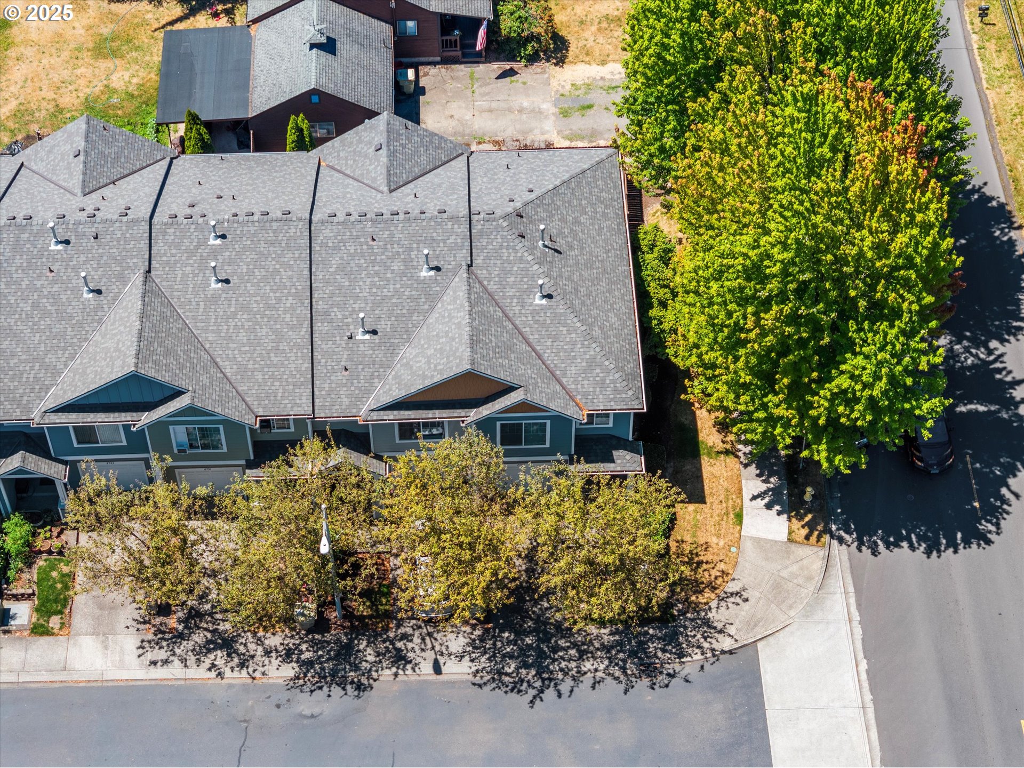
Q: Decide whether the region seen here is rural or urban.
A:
urban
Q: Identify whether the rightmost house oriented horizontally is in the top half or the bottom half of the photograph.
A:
top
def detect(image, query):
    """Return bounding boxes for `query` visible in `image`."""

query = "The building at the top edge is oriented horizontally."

[155,0,493,154]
